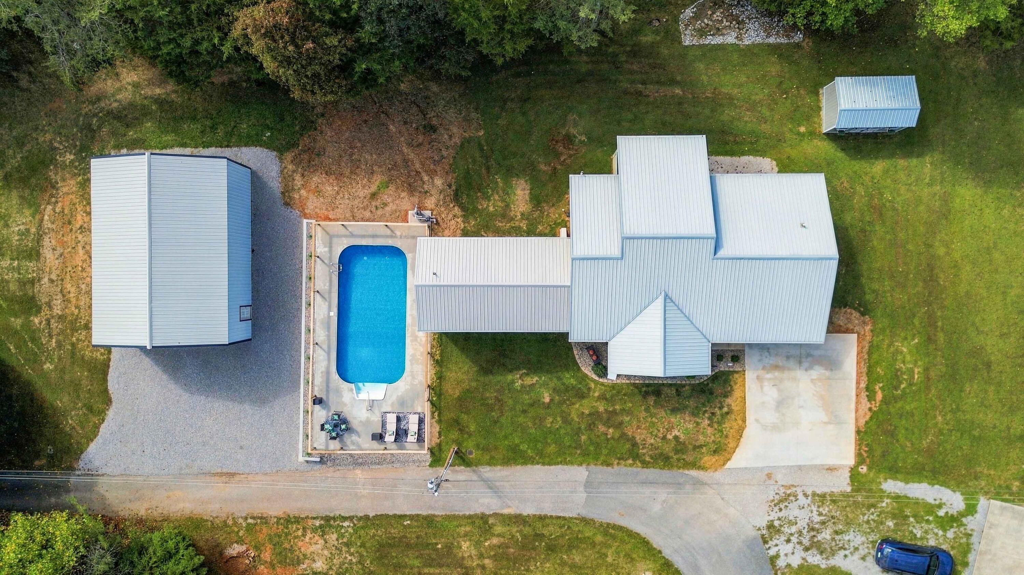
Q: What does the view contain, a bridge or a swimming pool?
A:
swimming pool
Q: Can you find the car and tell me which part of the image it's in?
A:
bottom right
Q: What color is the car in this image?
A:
blue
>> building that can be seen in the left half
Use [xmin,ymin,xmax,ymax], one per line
[90,152,252,349]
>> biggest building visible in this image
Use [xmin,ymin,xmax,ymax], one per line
[414,133,840,378]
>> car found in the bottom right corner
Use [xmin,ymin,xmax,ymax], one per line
[875,539,955,575]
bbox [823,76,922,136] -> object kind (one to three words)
shed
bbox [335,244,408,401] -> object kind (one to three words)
swimming pool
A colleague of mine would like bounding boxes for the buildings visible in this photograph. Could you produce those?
[414,133,840,378]
[90,152,252,349]
[823,76,922,136]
